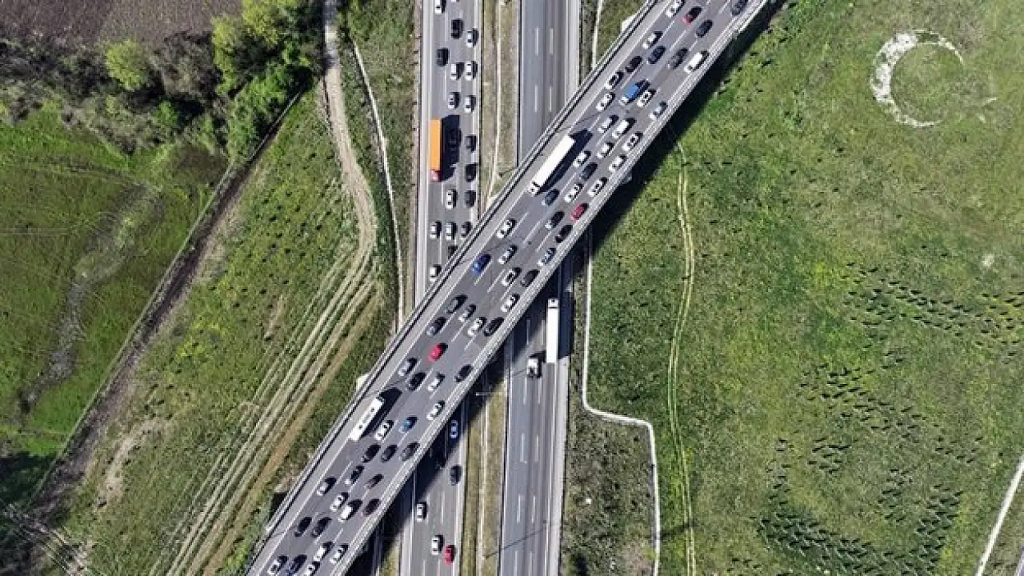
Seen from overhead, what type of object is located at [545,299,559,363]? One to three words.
vehicle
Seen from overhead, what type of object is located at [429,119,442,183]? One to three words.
vehicle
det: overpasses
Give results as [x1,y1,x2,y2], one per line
[236,0,764,576]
